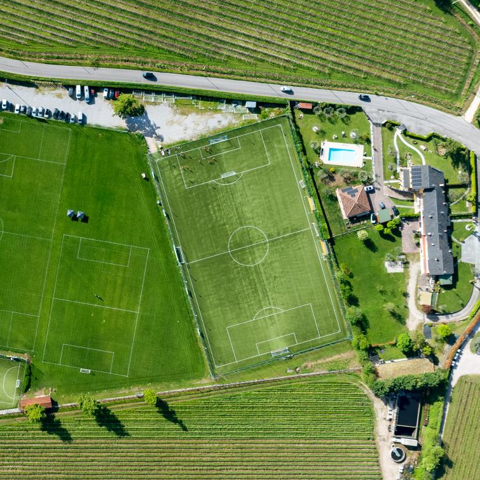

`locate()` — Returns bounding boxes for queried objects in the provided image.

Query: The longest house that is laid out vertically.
[399,166,454,285]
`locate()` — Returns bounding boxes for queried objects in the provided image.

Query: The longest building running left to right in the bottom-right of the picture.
[373,359,434,376]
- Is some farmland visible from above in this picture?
Yes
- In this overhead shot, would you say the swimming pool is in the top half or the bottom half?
top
